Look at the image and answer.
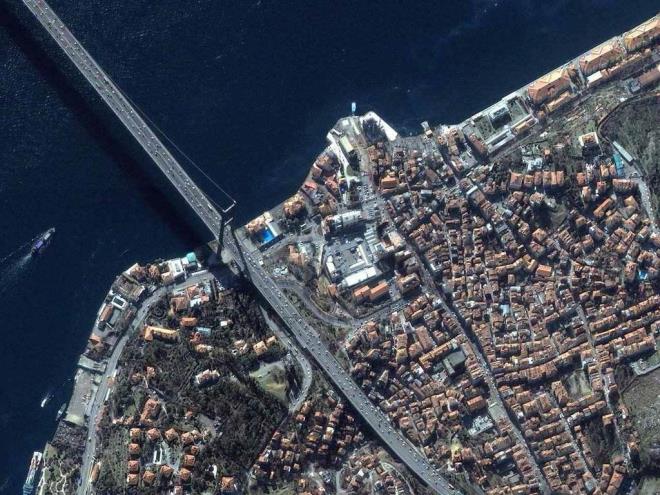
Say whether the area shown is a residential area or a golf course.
residential area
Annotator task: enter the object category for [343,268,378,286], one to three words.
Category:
building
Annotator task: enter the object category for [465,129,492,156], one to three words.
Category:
house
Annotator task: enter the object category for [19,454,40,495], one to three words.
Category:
ship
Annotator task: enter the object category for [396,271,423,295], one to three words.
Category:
building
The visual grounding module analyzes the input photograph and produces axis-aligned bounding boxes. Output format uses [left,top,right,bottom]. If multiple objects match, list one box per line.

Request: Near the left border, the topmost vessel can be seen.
[32,229,54,252]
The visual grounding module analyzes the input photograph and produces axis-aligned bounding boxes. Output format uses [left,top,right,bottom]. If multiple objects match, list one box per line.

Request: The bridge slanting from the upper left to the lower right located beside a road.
[23,0,468,495]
